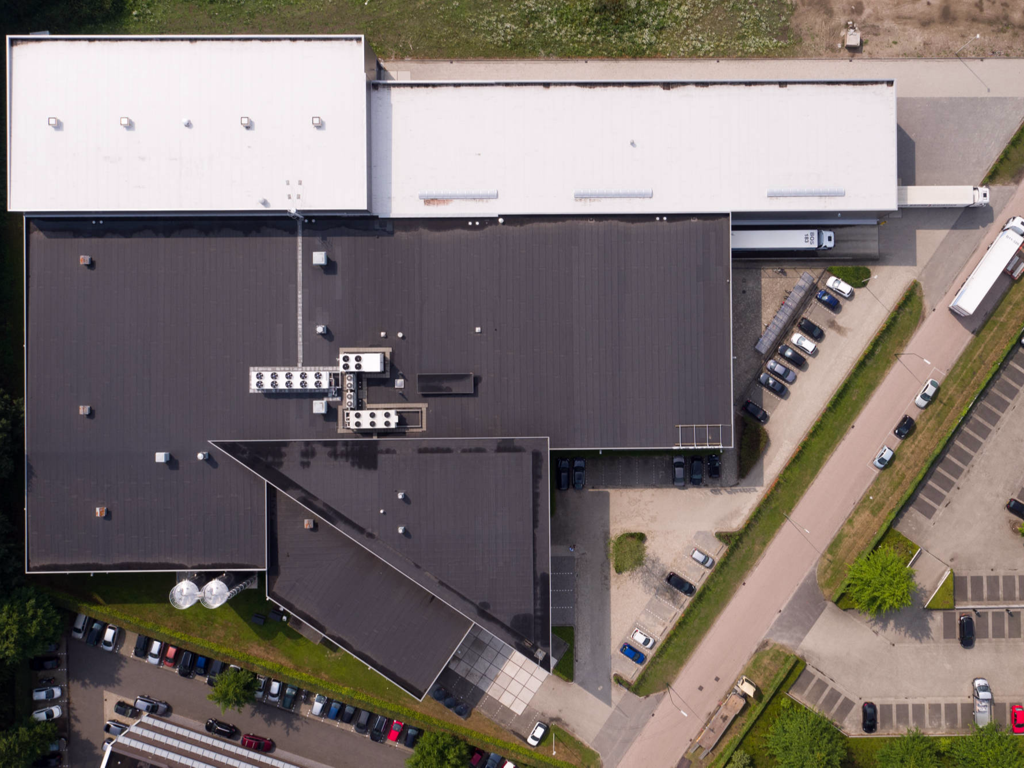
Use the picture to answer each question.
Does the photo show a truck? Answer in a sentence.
Yes, this view includes a truck.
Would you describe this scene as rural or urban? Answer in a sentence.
The land in this view is best described as urban.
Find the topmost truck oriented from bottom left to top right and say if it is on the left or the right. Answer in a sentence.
It is on the right.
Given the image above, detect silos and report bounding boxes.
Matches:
[169,571,219,607]
[199,571,248,607]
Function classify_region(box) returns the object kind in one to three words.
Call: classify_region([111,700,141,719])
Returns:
car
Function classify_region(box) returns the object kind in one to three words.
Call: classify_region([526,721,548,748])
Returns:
car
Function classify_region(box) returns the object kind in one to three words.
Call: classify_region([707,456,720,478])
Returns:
vehicle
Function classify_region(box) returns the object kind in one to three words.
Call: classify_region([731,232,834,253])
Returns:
truck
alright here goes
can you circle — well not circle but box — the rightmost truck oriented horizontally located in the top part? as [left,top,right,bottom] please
[897,186,989,209]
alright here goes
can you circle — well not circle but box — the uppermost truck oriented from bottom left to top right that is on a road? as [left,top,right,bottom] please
[949,214,1024,316]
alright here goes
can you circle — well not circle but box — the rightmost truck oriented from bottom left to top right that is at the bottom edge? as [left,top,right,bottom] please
[690,674,758,758]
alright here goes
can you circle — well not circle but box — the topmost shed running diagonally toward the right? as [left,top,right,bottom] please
[756,272,814,354]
